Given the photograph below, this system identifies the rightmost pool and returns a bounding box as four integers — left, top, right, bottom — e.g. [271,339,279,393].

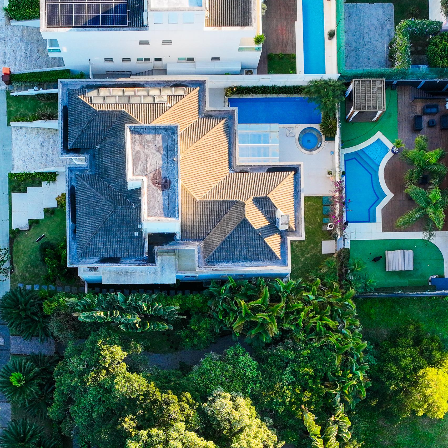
[341,133,397,222]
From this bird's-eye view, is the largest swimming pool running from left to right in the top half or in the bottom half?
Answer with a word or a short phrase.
top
